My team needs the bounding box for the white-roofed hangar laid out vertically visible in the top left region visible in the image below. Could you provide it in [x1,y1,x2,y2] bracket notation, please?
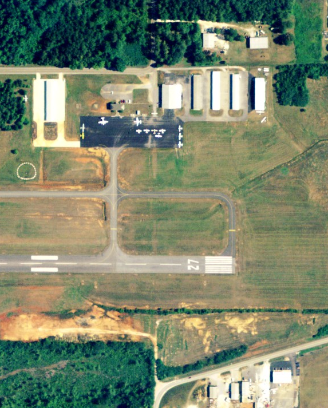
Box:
[46,81,59,121]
